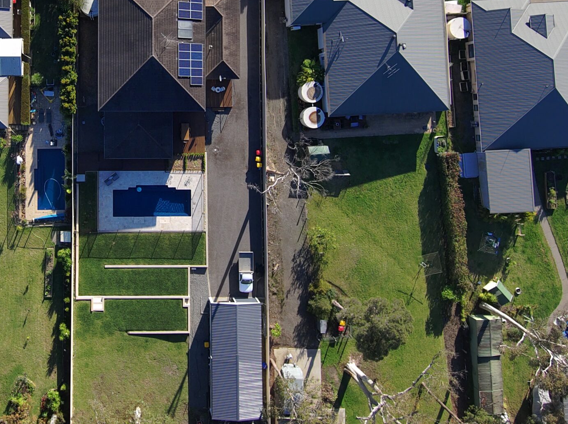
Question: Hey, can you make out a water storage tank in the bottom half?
No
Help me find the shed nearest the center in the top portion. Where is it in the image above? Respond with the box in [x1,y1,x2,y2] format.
[305,145,330,162]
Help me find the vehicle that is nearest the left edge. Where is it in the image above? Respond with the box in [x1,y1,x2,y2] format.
[237,250,255,292]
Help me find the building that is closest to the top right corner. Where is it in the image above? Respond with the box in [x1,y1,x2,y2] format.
[465,0,568,152]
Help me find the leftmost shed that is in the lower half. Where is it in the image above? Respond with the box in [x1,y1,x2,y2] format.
[209,297,263,422]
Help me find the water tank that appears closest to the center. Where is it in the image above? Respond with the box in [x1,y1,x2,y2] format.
[297,104,324,130]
